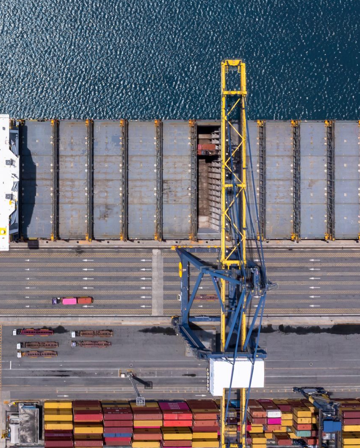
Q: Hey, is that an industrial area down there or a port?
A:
port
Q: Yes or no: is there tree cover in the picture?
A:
No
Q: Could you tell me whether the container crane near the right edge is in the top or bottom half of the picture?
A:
bottom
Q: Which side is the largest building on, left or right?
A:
left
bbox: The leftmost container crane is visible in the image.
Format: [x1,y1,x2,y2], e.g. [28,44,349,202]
[169,59,271,448]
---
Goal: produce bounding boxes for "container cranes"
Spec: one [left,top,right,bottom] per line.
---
[293,389,344,448]
[169,59,271,448]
